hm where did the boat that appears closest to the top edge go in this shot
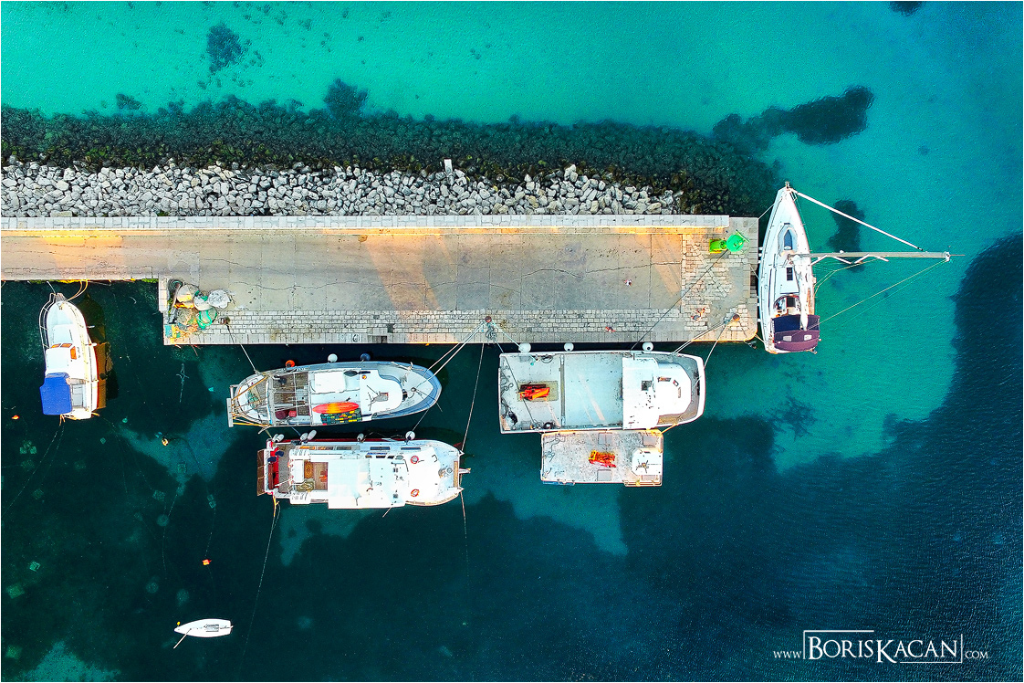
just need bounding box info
[758,181,965,354]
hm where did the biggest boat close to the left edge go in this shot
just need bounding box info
[40,292,112,425]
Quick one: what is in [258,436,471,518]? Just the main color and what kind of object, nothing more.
white boat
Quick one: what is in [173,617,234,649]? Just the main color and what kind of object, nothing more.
white boat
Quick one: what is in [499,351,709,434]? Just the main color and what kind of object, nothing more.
white vessel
